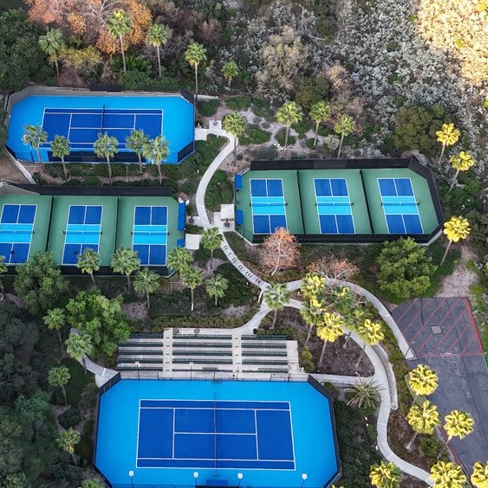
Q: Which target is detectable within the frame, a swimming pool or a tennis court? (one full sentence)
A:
It is a tennis court that can be seen here.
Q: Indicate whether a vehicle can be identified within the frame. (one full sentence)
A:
No, there's no vehicle here.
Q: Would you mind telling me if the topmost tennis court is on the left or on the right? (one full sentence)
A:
You can find the topmost tennis court on the left side of the picture.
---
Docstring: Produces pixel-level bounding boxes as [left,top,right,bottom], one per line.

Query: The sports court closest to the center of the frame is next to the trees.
[236,170,305,242]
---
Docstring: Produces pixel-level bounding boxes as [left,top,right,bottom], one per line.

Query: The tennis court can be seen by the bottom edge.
[94,380,339,488]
